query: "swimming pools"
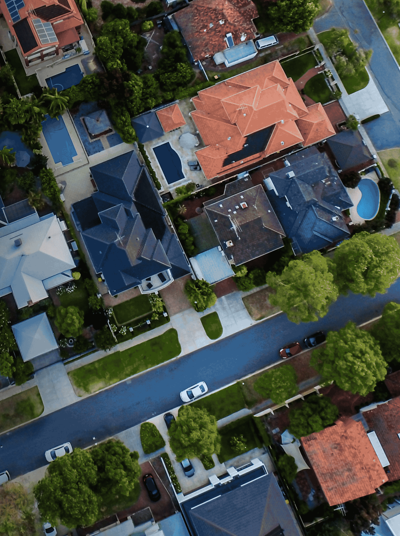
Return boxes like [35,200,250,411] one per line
[151,139,188,187]
[349,176,381,222]
[0,129,34,164]
[37,116,80,169]
[43,62,82,92]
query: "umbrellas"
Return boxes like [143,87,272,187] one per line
[13,149,33,168]
[176,130,201,154]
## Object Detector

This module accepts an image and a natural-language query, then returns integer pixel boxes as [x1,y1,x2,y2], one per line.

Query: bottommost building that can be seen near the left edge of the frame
[12,313,58,362]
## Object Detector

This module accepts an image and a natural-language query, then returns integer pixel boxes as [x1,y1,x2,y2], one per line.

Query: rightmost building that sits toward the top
[325,124,375,170]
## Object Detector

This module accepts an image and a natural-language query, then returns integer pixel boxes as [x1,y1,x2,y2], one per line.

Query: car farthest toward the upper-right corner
[253,34,280,51]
